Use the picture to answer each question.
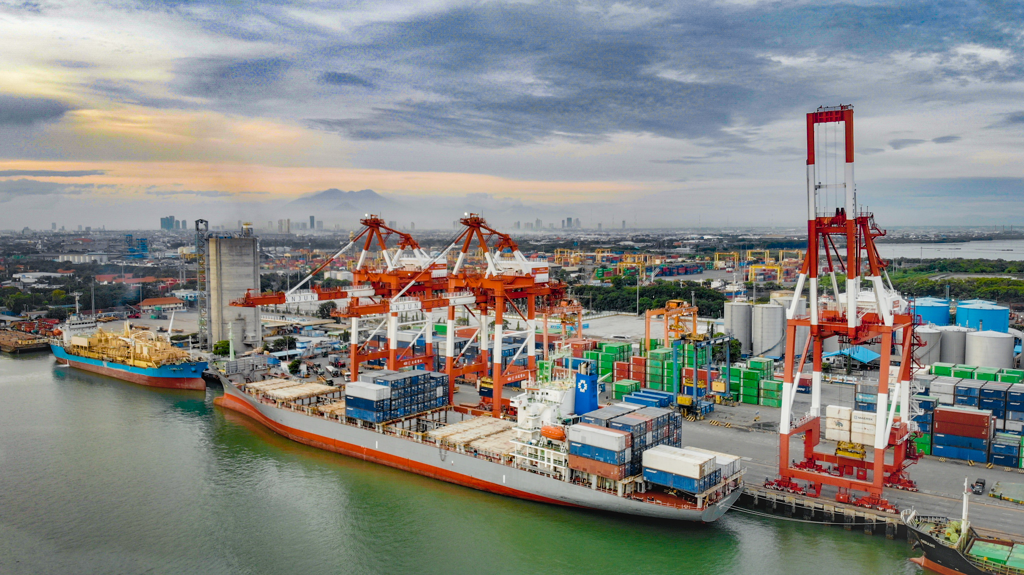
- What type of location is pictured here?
port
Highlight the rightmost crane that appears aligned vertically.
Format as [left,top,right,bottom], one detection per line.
[759,98,927,513]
